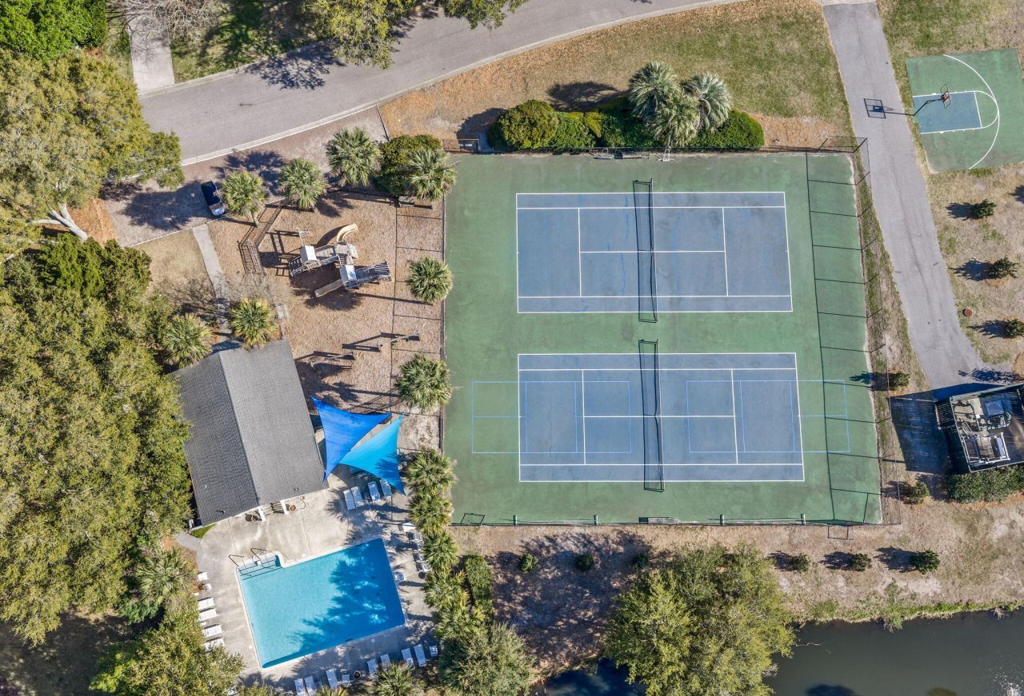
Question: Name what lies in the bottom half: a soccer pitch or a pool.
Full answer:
The one visible in the bottom half is a pool.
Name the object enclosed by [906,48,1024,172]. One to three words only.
basketball court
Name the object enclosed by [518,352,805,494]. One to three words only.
tennis court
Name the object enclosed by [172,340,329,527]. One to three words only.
building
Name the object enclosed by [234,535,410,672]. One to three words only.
swimming pool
